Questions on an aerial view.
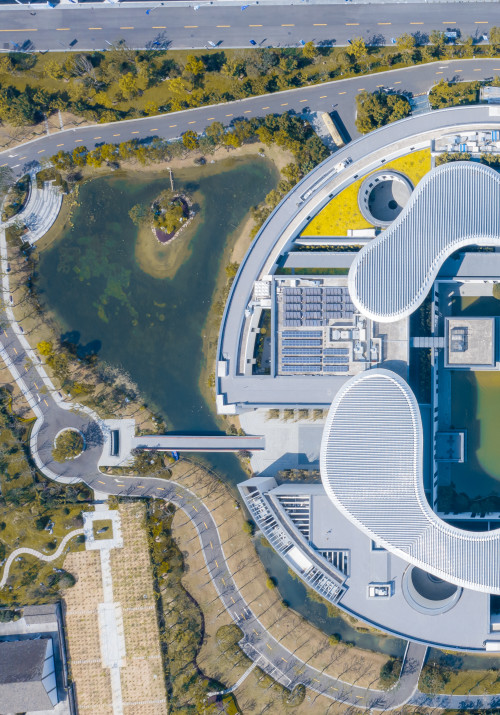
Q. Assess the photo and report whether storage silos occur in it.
No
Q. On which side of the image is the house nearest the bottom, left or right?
left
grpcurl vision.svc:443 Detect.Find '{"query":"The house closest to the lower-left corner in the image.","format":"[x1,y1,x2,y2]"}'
[0,637,58,710]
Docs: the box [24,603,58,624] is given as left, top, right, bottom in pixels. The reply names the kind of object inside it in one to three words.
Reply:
shed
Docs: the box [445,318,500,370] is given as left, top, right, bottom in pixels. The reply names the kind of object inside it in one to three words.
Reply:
building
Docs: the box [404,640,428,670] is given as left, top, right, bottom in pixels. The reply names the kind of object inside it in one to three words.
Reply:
bridge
